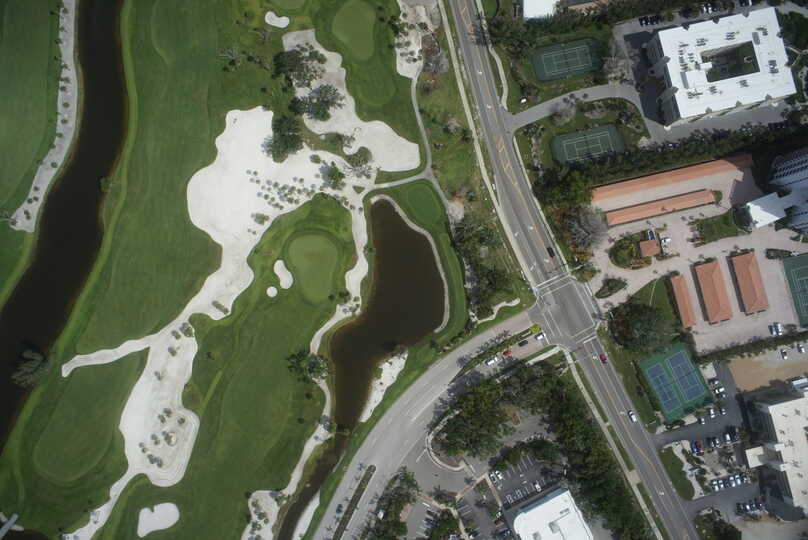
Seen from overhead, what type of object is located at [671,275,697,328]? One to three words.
building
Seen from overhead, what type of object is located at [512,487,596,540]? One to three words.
building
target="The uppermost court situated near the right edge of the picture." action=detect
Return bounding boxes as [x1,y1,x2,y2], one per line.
[783,253,808,326]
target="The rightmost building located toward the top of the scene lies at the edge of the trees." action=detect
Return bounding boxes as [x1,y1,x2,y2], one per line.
[768,144,808,222]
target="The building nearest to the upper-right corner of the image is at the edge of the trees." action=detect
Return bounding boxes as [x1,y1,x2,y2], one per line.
[645,8,796,125]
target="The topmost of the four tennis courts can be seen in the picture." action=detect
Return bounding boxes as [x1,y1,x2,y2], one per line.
[533,37,603,80]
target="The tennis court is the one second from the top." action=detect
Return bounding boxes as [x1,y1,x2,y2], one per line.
[551,123,626,165]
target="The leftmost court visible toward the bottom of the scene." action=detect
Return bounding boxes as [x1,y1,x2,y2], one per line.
[637,342,716,425]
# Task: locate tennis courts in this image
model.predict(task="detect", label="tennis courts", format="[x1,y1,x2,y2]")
[551,123,626,165]
[533,37,603,80]
[637,342,716,425]
[783,253,808,326]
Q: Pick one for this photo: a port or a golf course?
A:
golf course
